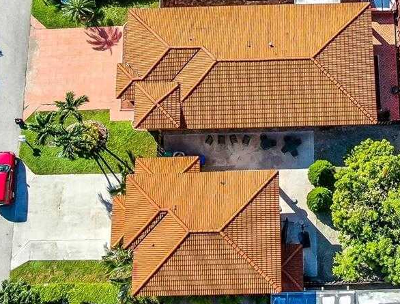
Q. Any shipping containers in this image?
No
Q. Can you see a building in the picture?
Yes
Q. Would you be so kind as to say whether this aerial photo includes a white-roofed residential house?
No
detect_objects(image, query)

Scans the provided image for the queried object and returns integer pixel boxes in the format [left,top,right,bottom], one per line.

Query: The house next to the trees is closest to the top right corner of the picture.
[115,2,378,130]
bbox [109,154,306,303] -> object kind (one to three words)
house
